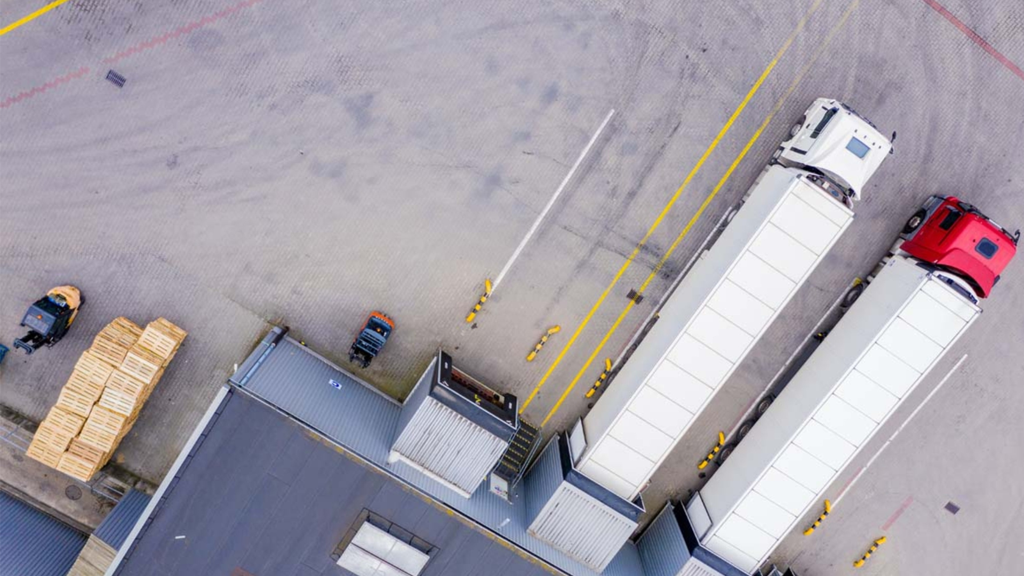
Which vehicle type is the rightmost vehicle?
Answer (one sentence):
The rightmost vehicle is a truck.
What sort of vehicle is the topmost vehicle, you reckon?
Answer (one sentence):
In the photo, the topmost vehicle shows up as a truck.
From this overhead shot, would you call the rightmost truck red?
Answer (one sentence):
Yes, the rightmost truck is red.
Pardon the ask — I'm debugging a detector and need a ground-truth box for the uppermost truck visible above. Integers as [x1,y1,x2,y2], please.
[762,99,892,203]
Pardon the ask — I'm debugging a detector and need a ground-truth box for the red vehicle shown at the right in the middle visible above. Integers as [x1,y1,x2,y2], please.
[878,196,1011,297]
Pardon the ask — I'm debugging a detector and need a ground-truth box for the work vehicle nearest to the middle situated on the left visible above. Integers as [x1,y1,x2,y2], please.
[348,308,396,369]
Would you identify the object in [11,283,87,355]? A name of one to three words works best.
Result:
work vehicle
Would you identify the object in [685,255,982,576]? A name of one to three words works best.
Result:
trailer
